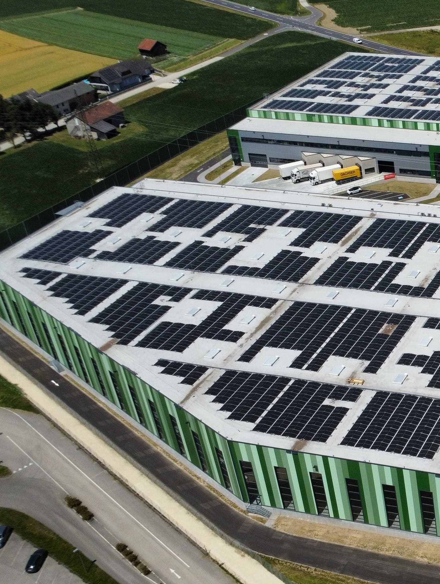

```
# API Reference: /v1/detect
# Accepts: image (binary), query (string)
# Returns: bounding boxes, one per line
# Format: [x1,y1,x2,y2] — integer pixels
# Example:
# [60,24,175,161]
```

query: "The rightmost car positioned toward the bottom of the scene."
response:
[23,545,45,572]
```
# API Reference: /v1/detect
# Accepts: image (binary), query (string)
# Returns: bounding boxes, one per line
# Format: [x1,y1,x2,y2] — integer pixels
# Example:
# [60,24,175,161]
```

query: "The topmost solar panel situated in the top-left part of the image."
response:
[103,64,130,80]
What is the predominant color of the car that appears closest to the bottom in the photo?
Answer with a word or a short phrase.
black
